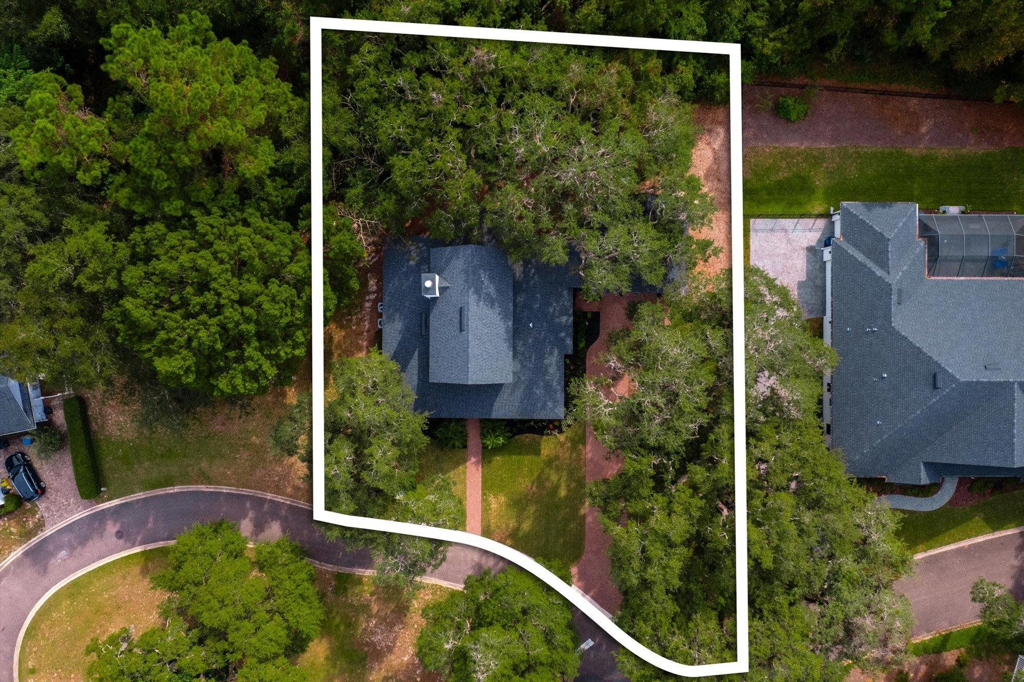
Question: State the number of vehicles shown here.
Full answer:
The picture shows just 1 vehicle.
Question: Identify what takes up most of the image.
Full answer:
The largest share of the image is taken up by trees.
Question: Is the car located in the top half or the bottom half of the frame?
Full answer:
The bottom half of the photo is where the car is.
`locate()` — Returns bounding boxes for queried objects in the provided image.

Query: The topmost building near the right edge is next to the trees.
[815,200,1024,484]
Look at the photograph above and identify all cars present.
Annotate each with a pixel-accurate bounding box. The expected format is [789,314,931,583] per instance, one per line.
[8,450,46,504]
